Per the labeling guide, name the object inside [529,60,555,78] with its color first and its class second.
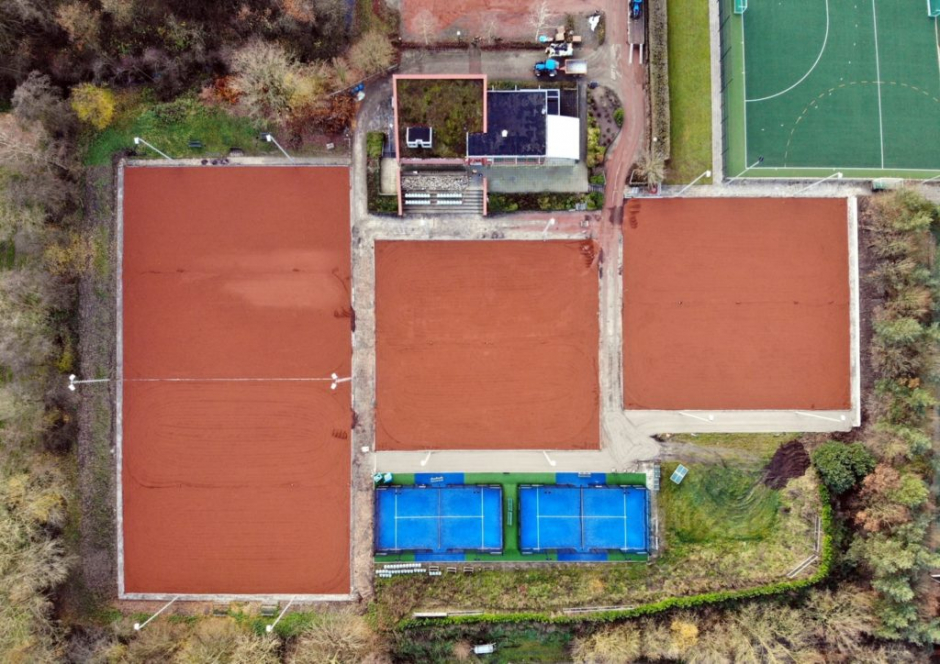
blue work vehicle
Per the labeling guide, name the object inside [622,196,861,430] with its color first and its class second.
red sports court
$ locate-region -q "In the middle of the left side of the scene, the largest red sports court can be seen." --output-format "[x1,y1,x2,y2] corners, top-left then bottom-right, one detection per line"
[116,163,356,602]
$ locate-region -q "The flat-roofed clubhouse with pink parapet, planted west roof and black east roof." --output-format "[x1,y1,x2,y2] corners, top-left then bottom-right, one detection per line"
[394,75,578,218]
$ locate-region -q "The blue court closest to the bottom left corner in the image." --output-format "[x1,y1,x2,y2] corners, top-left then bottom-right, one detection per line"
[373,486,503,557]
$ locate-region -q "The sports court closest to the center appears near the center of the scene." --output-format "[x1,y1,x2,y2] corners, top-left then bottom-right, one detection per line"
[374,240,601,451]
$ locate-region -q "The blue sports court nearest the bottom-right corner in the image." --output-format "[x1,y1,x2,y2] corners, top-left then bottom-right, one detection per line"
[521,486,653,557]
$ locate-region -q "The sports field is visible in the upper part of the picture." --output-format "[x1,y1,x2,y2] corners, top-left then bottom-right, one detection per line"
[722,0,940,179]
